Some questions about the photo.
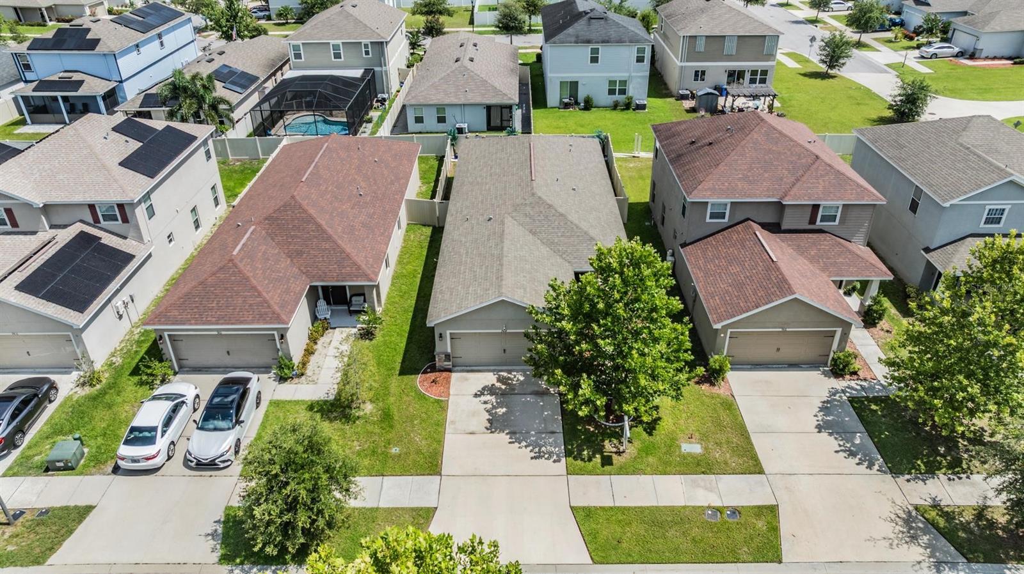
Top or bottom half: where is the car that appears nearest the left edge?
bottom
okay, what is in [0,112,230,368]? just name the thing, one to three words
house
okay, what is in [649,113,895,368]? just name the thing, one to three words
house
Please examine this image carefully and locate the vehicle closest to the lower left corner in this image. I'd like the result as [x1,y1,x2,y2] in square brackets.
[0,374,53,452]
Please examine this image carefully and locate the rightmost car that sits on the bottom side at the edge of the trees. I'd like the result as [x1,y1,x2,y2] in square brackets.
[181,376,255,469]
